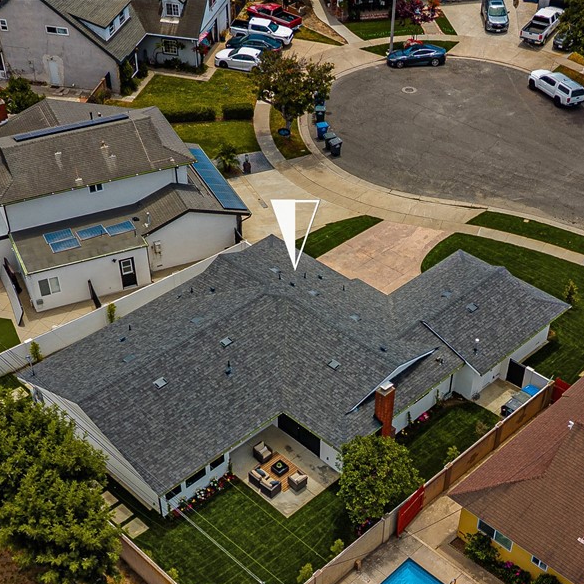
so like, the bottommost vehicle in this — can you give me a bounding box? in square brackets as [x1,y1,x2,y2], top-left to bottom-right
[529,69,584,104]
